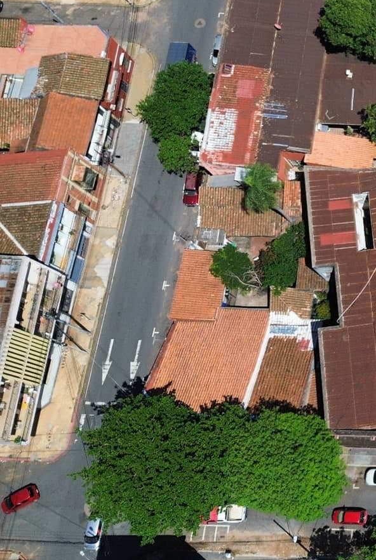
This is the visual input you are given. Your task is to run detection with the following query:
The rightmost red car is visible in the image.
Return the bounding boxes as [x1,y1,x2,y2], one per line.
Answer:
[331,506,368,528]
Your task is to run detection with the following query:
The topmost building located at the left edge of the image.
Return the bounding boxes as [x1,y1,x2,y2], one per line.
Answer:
[0,17,130,113]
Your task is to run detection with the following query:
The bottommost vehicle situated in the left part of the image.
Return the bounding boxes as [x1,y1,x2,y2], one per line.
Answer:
[79,514,108,554]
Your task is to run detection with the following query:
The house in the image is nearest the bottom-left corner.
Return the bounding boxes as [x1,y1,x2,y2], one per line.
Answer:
[0,256,80,433]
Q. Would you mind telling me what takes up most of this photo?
buildings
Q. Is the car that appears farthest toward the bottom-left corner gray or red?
red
